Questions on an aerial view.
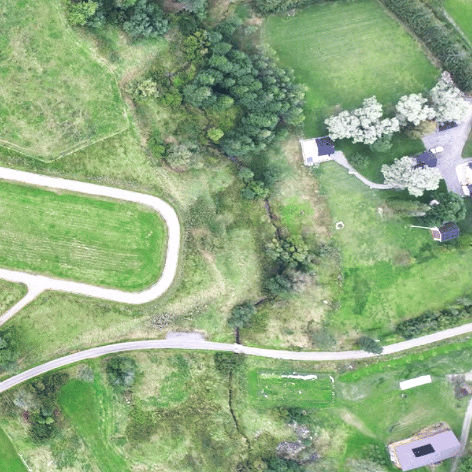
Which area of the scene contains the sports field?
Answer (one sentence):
The sports field appears toward the top right of the photo.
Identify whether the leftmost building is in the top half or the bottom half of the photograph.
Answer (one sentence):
It is in the top half that the leftmost building appears.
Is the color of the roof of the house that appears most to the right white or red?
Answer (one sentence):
In this view, the roof of the house that appears most to the right is white.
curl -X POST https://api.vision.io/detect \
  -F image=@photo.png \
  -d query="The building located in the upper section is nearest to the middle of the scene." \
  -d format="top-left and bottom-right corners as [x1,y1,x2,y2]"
[313,136,335,157]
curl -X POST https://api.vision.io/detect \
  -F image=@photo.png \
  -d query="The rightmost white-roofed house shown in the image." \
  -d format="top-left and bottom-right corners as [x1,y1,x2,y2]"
[451,158,472,201]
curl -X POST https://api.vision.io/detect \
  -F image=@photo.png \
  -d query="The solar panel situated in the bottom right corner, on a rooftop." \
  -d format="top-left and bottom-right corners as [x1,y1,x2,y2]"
[412,445,434,460]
